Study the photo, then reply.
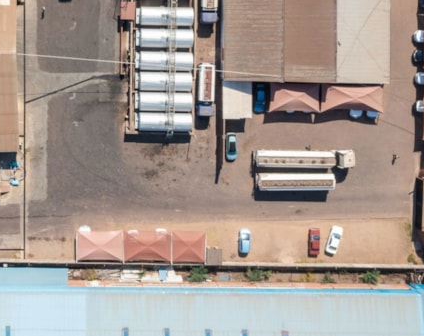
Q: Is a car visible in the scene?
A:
Yes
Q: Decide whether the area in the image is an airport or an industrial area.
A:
industrial area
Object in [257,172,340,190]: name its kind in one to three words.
trailer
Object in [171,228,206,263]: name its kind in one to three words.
tent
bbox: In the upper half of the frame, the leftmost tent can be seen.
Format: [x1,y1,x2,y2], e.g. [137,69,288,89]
[267,83,321,113]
